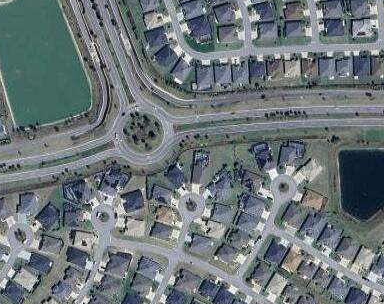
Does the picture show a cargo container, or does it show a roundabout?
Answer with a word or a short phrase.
roundabout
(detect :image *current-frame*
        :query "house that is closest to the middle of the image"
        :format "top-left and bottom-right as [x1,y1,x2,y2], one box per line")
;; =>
[190,151,208,178]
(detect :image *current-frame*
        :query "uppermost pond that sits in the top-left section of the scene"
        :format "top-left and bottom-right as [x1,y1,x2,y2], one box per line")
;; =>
[0,0,91,129]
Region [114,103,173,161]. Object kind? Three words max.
roundabout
